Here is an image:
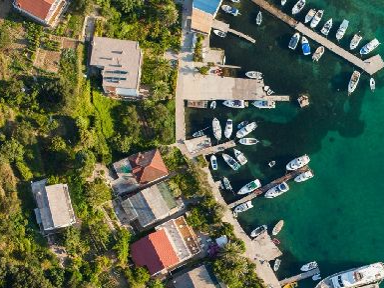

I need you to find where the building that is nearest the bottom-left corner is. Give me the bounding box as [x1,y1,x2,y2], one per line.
[31,180,84,231]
